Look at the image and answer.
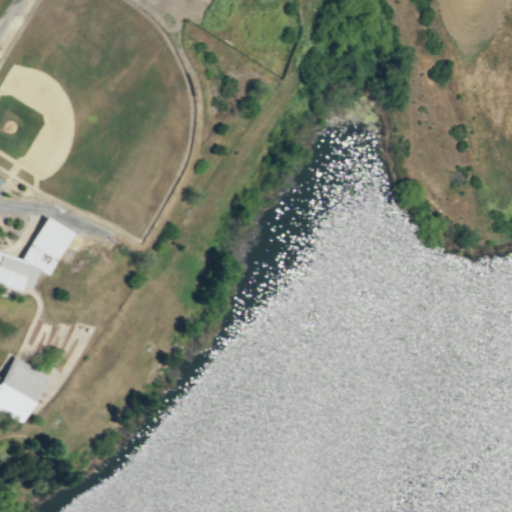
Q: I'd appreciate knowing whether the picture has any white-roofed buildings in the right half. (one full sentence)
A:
No, no white-roofed building is visible in the right half.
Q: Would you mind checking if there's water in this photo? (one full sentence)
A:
Yes, there is water in the image.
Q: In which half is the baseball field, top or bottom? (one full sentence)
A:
The baseball field is in the top half of the image.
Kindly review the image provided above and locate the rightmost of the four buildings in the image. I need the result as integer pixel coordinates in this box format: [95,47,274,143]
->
[32,217,76,261]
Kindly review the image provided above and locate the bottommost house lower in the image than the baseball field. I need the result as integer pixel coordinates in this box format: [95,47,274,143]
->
[0,356,50,424]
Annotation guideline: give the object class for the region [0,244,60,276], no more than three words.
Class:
building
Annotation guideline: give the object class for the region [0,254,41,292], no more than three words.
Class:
building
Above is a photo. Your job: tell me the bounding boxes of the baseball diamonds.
[0,0,194,242]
